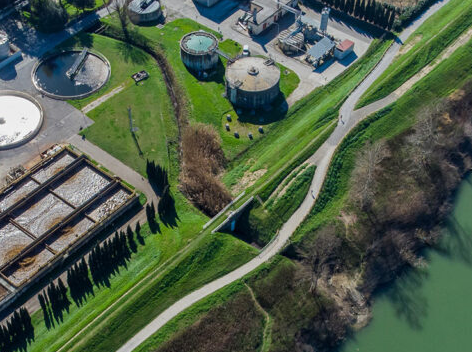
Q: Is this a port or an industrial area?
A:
industrial area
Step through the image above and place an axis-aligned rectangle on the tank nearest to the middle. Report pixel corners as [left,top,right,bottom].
[224,55,281,114]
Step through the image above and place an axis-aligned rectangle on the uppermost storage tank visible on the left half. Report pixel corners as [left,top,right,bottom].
[127,0,162,29]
